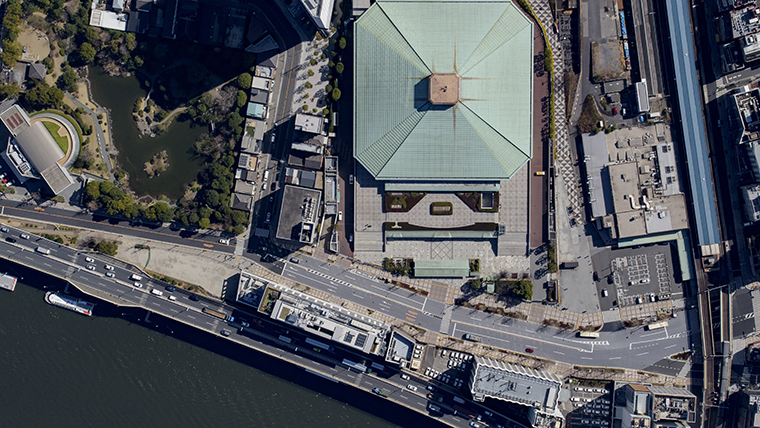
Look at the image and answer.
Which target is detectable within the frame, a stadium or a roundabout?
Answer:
stadium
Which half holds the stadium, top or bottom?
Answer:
top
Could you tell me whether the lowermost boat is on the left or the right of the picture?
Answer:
left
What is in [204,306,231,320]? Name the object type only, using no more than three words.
vehicle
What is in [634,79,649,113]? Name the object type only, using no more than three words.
shed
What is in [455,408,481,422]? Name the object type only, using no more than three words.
vehicle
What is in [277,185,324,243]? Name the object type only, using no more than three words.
building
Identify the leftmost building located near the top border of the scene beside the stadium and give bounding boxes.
[301,0,338,38]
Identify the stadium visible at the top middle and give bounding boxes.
[355,1,532,180]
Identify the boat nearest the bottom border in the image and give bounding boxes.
[43,292,93,315]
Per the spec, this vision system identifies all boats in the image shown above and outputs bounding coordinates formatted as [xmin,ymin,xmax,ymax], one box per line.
[43,292,93,315]
[0,274,18,293]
